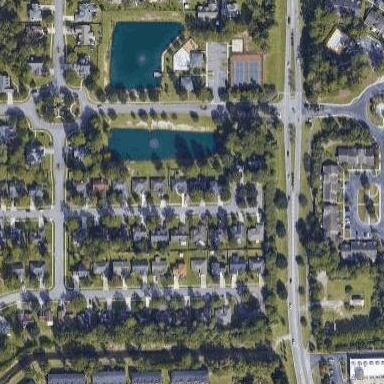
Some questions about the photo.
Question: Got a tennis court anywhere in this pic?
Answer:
Yes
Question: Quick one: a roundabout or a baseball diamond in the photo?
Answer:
roundabout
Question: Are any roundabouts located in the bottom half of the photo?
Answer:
No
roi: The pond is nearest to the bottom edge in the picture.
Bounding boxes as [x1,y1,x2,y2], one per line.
[107,128,217,162]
